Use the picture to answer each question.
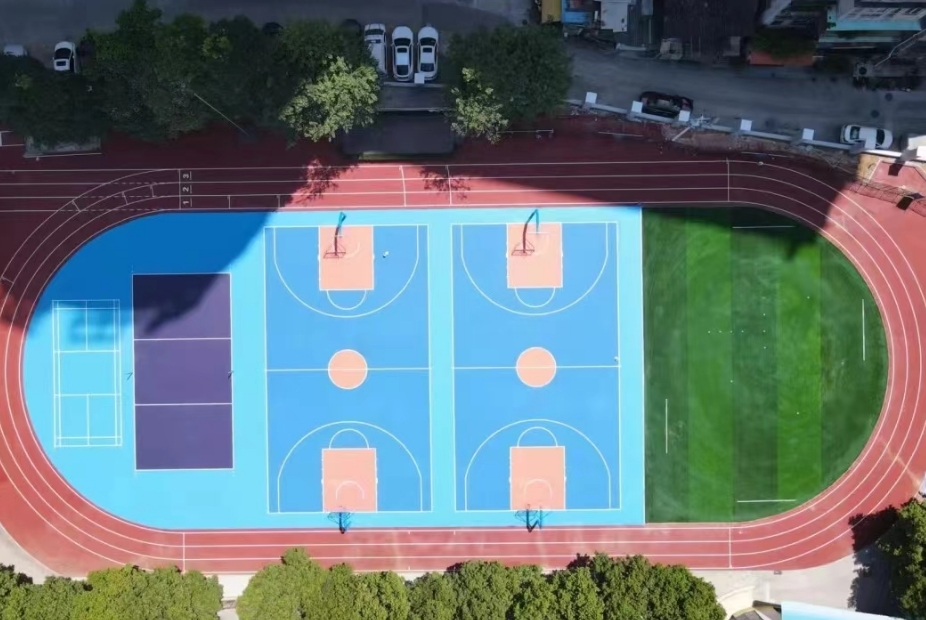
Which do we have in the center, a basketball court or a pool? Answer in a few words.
basketball court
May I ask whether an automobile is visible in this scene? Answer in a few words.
Yes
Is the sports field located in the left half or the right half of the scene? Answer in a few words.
right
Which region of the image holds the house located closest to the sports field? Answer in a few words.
bottom right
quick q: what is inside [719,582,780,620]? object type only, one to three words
house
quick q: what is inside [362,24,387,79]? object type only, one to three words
car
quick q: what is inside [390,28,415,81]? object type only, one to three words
car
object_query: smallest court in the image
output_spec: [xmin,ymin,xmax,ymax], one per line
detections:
[53,299,121,446]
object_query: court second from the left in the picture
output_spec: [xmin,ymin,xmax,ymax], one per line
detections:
[133,272,232,470]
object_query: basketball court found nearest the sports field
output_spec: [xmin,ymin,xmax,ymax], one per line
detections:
[453,222,619,512]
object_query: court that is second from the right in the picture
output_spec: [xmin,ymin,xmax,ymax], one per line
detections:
[265,225,431,514]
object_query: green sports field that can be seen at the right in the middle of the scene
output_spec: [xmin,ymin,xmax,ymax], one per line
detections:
[641,205,890,525]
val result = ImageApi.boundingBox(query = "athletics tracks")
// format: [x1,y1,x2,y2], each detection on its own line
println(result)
[0,118,926,578]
